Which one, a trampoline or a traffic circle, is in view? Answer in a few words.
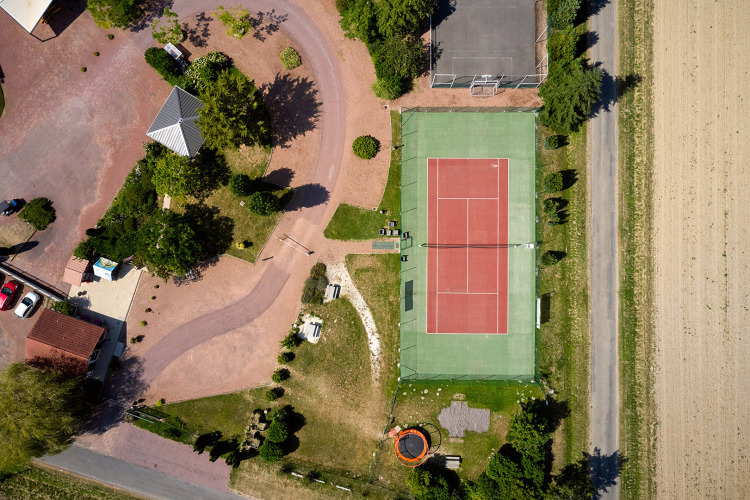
trampoline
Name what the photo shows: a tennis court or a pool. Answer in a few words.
tennis court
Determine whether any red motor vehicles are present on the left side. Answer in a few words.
Yes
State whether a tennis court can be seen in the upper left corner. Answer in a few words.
No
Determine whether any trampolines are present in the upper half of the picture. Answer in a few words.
No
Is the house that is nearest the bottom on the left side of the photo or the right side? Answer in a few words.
left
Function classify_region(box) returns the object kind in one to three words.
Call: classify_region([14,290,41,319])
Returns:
car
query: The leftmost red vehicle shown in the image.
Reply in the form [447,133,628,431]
[0,279,23,309]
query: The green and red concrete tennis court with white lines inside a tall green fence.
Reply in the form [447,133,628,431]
[399,111,536,380]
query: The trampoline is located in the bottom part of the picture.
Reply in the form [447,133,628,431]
[395,426,428,466]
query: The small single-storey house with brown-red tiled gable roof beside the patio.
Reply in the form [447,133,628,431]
[25,307,110,384]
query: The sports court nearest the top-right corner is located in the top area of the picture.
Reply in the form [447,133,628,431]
[431,0,535,89]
